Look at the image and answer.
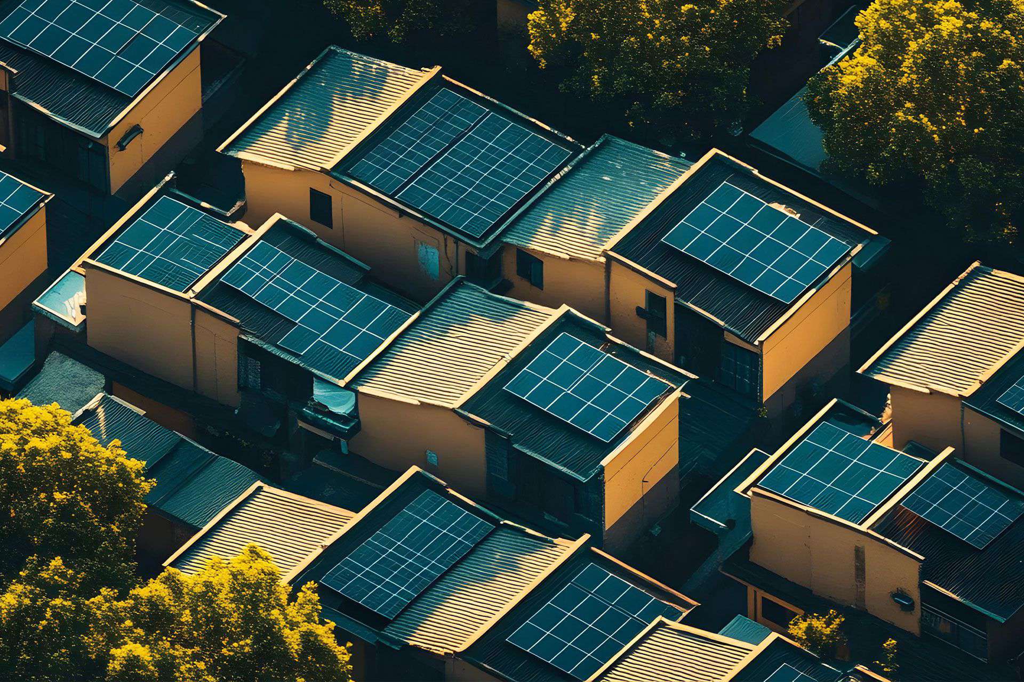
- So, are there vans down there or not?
No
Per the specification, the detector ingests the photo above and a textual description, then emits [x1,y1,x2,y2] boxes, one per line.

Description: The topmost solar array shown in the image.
[3,0,206,96]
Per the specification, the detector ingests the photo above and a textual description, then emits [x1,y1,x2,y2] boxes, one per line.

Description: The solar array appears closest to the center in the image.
[505,330,672,442]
